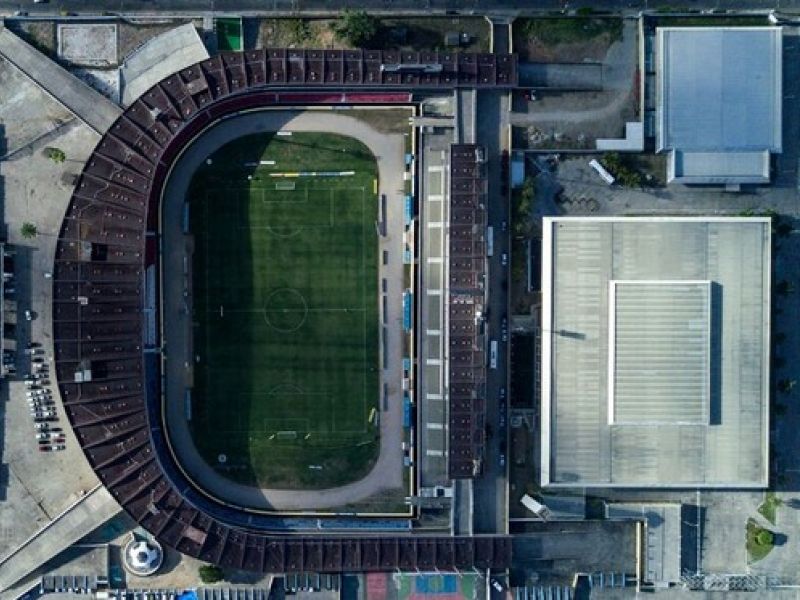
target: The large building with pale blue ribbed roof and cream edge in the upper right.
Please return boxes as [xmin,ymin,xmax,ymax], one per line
[647,27,782,192]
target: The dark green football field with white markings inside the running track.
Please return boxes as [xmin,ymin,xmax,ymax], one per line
[192,131,380,490]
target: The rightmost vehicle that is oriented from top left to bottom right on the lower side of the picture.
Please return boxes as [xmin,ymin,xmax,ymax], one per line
[523,495,549,519]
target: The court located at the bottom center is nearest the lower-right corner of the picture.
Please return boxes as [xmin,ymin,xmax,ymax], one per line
[393,571,484,600]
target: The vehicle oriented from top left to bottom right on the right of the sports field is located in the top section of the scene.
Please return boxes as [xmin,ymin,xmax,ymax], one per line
[590,158,616,183]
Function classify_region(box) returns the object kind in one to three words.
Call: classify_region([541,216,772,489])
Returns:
building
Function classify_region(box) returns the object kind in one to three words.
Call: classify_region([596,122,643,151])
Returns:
shed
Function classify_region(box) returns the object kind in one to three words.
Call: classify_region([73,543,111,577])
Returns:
shed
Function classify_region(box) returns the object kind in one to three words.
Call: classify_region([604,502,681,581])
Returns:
building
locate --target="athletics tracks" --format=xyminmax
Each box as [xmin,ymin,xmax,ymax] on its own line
[163,109,405,511]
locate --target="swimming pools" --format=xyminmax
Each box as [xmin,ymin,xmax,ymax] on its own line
[510,330,540,411]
